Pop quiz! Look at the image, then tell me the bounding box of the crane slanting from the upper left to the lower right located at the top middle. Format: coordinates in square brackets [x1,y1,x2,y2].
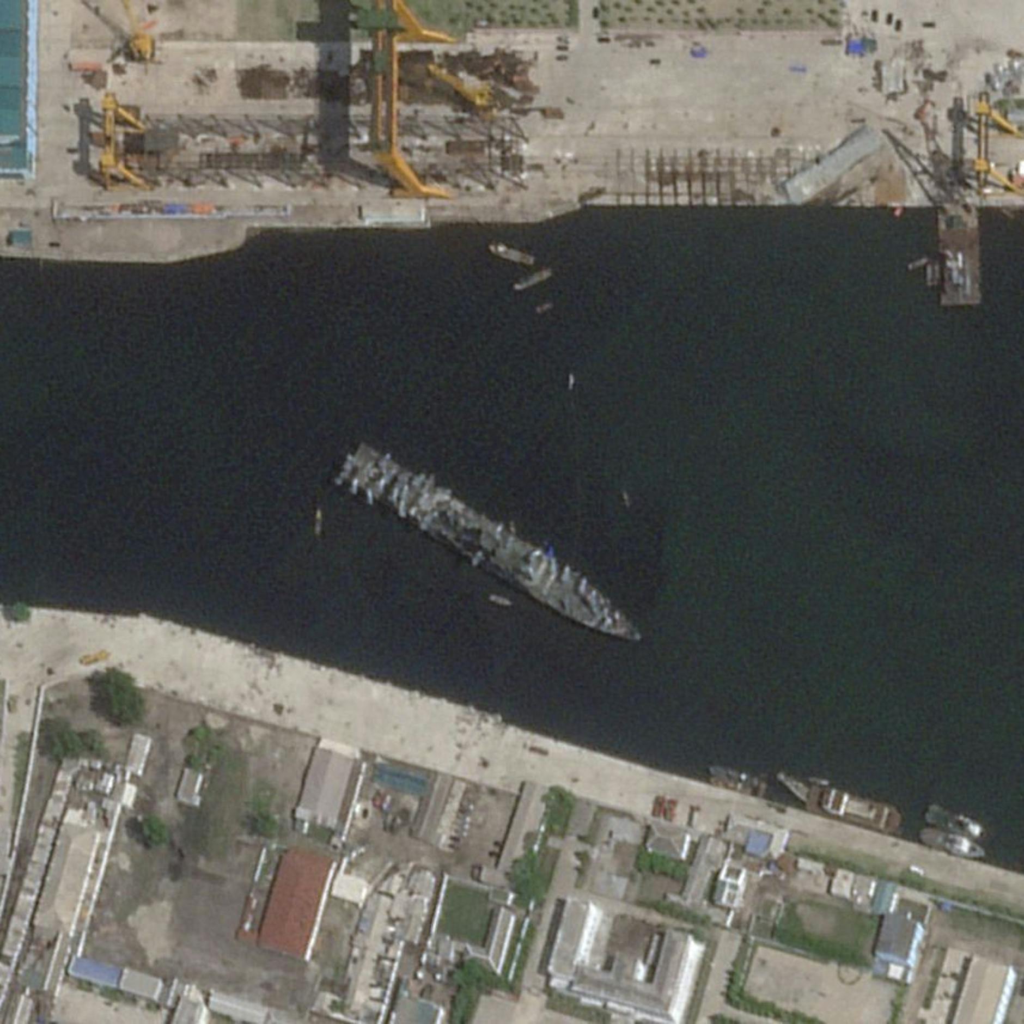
[427,64,505,116]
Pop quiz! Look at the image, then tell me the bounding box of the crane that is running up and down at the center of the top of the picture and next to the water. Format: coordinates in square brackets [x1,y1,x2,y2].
[359,0,456,201]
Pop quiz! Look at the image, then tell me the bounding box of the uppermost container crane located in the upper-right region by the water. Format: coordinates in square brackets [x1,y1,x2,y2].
[971,90,1024,194]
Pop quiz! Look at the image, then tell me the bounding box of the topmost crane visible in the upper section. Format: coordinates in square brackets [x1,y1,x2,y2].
[126,0,165,65]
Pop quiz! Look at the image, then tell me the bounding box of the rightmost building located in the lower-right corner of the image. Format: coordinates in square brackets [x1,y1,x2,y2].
[950,954,1013,1024]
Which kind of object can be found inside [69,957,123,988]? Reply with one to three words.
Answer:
house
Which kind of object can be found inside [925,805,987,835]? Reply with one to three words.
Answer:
boat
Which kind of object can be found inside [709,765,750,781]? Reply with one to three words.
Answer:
boat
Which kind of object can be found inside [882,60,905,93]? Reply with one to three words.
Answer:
building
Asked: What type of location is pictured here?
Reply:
port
